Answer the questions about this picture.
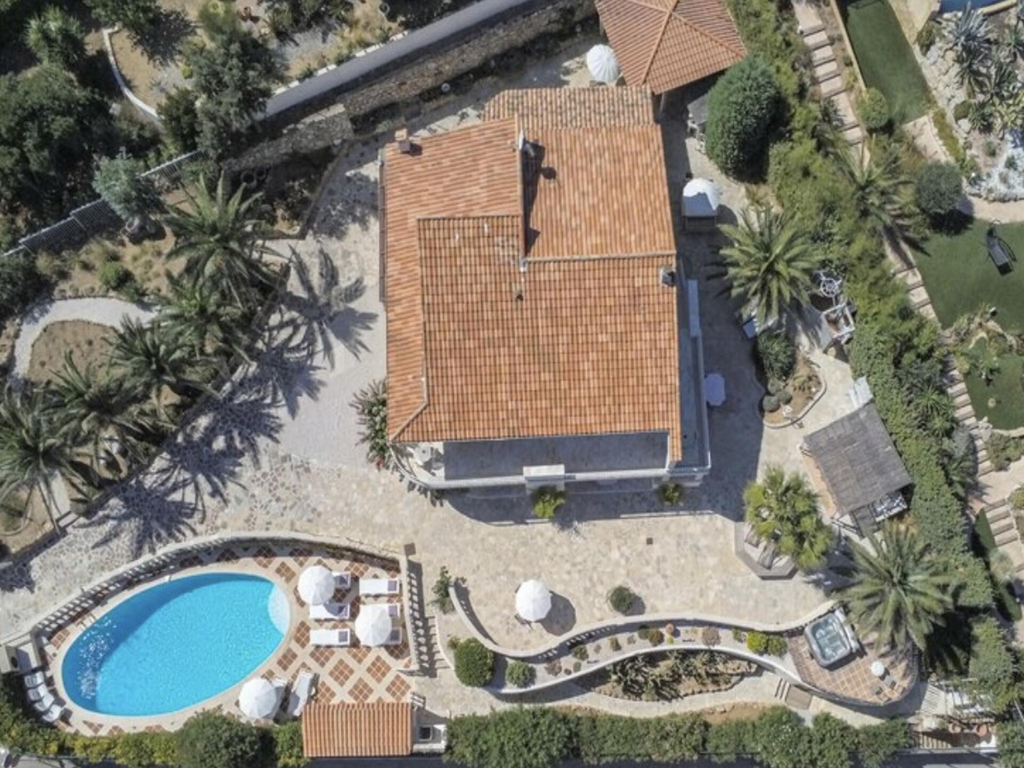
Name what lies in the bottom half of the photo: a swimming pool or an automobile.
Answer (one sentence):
There is a swimming pool in the bottom half of the photo.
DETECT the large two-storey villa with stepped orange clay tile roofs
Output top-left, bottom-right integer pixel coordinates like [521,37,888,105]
[379,84,711,506]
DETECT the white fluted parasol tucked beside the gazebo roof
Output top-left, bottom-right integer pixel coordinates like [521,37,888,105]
[585,51,620,88]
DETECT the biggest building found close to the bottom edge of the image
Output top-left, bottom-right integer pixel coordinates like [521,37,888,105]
[303,702,416,758]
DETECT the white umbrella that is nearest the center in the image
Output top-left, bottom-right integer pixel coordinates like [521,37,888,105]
[514,581,553,621]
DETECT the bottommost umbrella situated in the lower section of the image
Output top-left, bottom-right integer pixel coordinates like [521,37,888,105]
[240,678,280,719]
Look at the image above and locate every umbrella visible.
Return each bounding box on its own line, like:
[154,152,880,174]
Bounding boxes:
[702,376,729,404]
[240,678,280,719]
[355,606,394,645]
[298,567,336,604]
[585,51,620,88]
[514,581,553,621]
